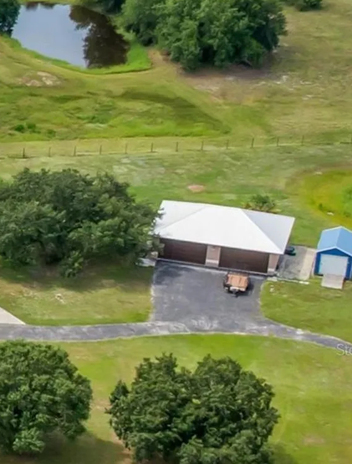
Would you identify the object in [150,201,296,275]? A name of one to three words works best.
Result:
building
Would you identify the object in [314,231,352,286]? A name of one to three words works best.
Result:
shed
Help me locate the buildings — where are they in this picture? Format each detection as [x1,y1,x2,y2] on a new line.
[150,201,296,275]
[314,231,352,286]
